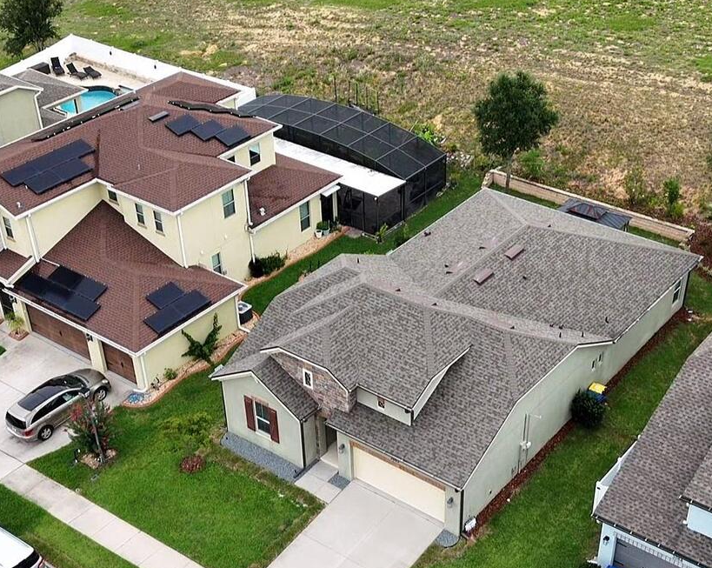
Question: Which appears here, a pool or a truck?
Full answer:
It is a pool that can be seen here.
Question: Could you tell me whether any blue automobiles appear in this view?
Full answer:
No, no blue automobile can be seen from above.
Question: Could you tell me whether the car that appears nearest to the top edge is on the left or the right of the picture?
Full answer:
The car that appears nearest to the top edge sits on the left side.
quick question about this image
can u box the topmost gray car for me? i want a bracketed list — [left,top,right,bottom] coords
[3,365,112,440]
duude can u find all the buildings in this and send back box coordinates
[0,72,342,391]
[590,333,712,568]
[208,188,702,541]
